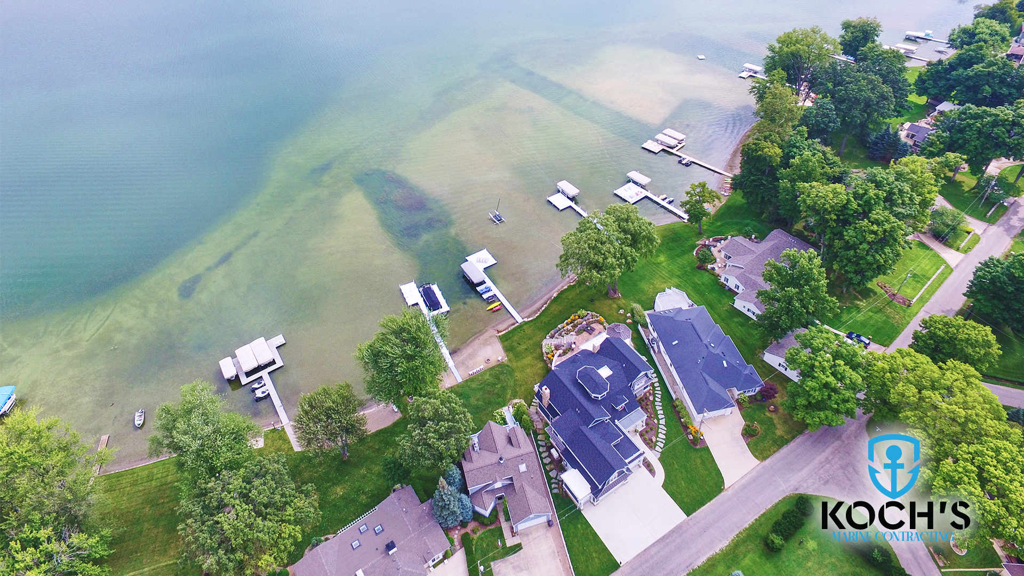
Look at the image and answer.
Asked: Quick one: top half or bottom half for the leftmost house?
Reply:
bottom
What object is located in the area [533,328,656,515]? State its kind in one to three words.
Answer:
house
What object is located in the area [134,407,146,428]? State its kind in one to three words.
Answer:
boat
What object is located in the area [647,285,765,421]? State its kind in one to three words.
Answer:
house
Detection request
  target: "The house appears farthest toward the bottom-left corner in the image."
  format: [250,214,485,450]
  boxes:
[293,485,451,576]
